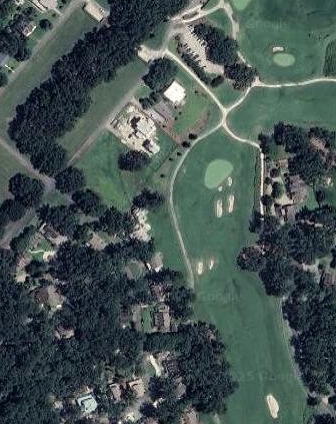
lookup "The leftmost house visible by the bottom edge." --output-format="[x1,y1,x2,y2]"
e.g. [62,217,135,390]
[75,390,99,413]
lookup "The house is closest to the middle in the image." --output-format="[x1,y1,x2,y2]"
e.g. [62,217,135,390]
[130,207,151,243]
